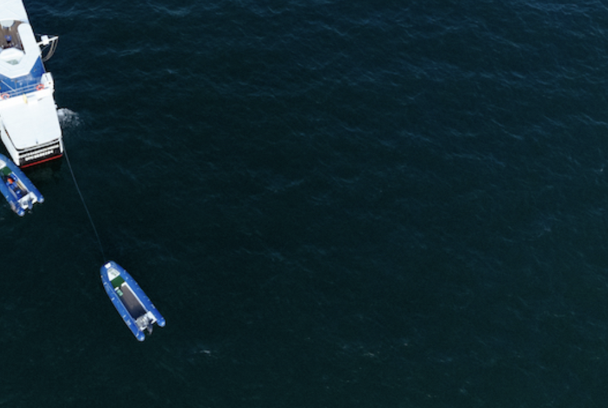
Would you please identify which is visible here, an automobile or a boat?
boat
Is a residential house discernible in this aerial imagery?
No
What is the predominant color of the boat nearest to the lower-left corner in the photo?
blue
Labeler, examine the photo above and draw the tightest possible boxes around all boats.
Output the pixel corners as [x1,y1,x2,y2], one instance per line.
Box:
[99,260,163,340]
[0,154,44,216]
[0,0,66,168]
